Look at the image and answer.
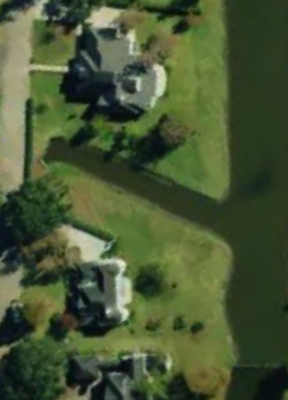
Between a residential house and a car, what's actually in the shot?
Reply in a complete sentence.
It is a residential house that can be seen here.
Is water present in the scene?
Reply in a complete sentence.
Yes, the picture does contain water.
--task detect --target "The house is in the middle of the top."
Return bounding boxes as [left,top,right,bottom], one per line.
[74,21,164,119]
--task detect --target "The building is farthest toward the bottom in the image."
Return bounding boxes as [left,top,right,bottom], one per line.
[66,351,169,400]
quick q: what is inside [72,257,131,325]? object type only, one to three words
house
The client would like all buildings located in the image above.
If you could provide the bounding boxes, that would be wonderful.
[66,351,169,400]
[74,21,164,119]
[72,257,131,325]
